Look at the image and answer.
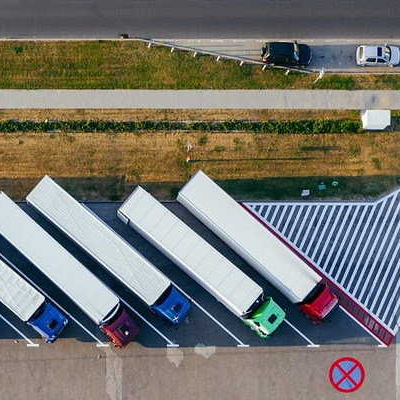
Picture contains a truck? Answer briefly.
Yes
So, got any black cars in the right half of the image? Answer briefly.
Yes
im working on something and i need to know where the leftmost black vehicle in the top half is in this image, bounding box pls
[260,40,312,69]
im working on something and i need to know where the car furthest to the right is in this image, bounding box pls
[354,41,400,69]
